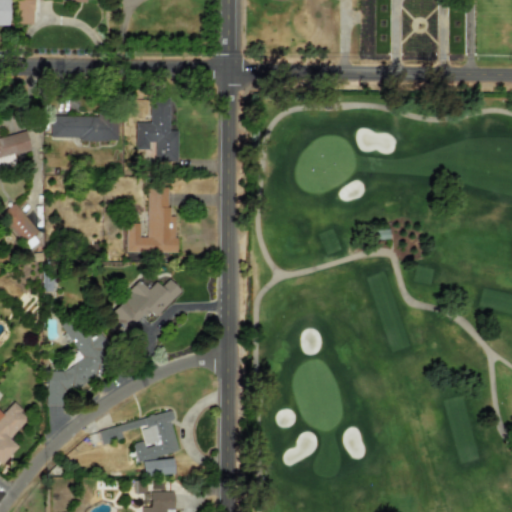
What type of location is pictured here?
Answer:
golf course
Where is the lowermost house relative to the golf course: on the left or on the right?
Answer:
on the left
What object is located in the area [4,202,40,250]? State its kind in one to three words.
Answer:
house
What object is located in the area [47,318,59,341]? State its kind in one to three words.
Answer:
swimming pool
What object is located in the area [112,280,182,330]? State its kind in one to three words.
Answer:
house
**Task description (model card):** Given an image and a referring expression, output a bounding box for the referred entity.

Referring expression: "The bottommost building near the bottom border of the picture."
[134,482,176,512]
